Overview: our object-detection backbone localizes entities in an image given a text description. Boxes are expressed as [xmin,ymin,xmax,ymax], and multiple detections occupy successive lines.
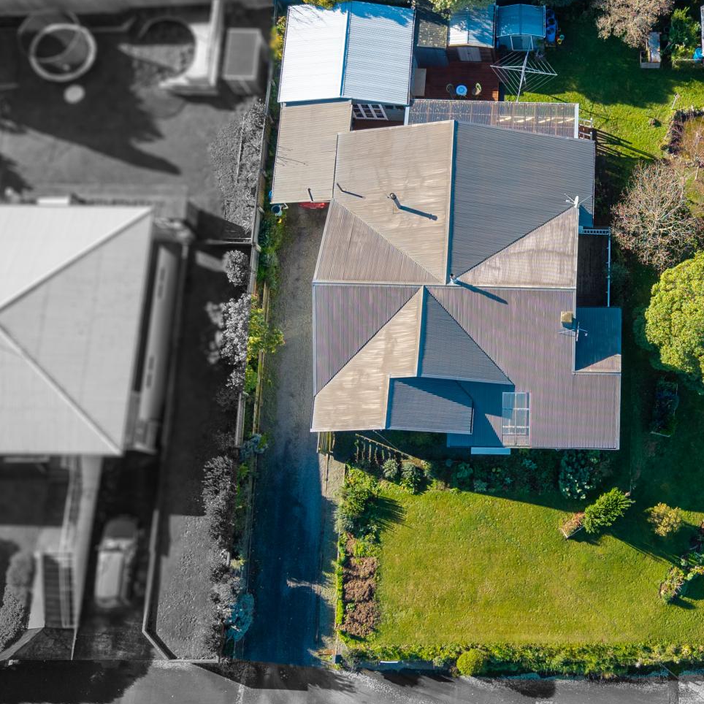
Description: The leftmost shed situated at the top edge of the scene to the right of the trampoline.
[225,30,272,88]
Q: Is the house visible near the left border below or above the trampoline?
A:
below it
